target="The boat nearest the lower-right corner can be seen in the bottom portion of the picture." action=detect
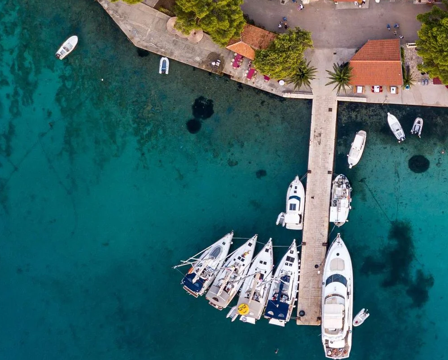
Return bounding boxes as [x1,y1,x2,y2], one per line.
[352,307,371,328]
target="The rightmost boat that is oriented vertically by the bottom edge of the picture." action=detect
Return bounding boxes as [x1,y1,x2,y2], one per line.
[321,232,353,360]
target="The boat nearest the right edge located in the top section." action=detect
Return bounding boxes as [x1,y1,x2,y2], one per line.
[410,116,423,138]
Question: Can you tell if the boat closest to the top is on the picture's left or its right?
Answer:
left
